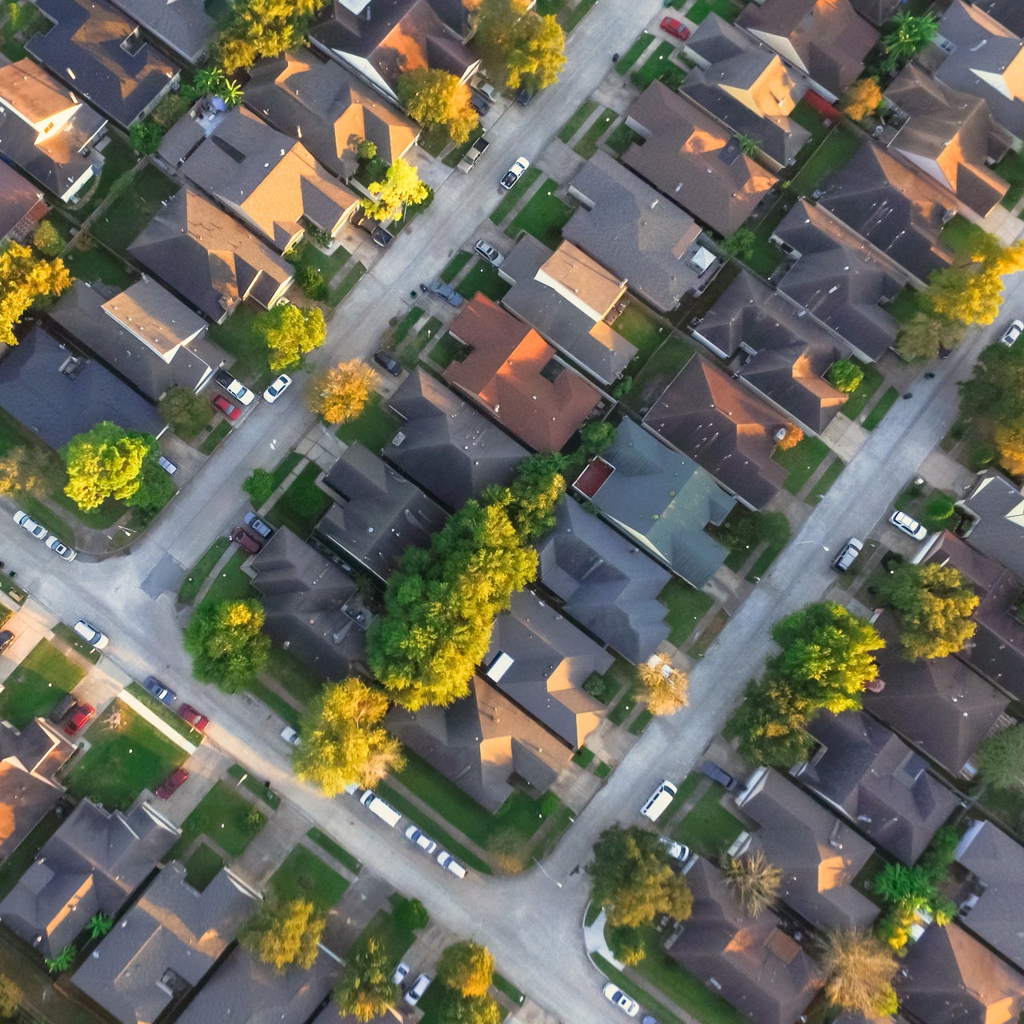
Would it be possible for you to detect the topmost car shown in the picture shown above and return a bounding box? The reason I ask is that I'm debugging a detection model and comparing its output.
[657,13,693,45]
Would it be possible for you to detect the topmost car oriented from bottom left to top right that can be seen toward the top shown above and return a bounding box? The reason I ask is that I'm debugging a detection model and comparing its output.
[509,79,541,113]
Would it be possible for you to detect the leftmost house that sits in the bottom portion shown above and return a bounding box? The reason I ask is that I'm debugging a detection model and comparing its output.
[0,706,83,874]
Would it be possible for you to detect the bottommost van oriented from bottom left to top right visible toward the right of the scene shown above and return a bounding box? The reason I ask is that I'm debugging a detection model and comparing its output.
[639,779,676,822]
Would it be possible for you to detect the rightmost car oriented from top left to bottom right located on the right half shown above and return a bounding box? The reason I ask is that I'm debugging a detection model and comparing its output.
[889,509,927,541]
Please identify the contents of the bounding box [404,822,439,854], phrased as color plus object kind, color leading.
white car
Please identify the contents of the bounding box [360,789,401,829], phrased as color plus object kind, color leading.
white van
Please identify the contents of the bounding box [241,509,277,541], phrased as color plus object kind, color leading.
blue car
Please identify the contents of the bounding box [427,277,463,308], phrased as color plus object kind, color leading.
blue car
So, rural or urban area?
urban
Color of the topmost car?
red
